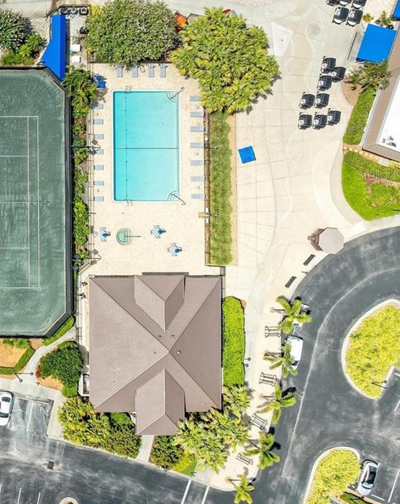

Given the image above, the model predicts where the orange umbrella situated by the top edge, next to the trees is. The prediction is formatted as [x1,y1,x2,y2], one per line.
[173,16,187,29]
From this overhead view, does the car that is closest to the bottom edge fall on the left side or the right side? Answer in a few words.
right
